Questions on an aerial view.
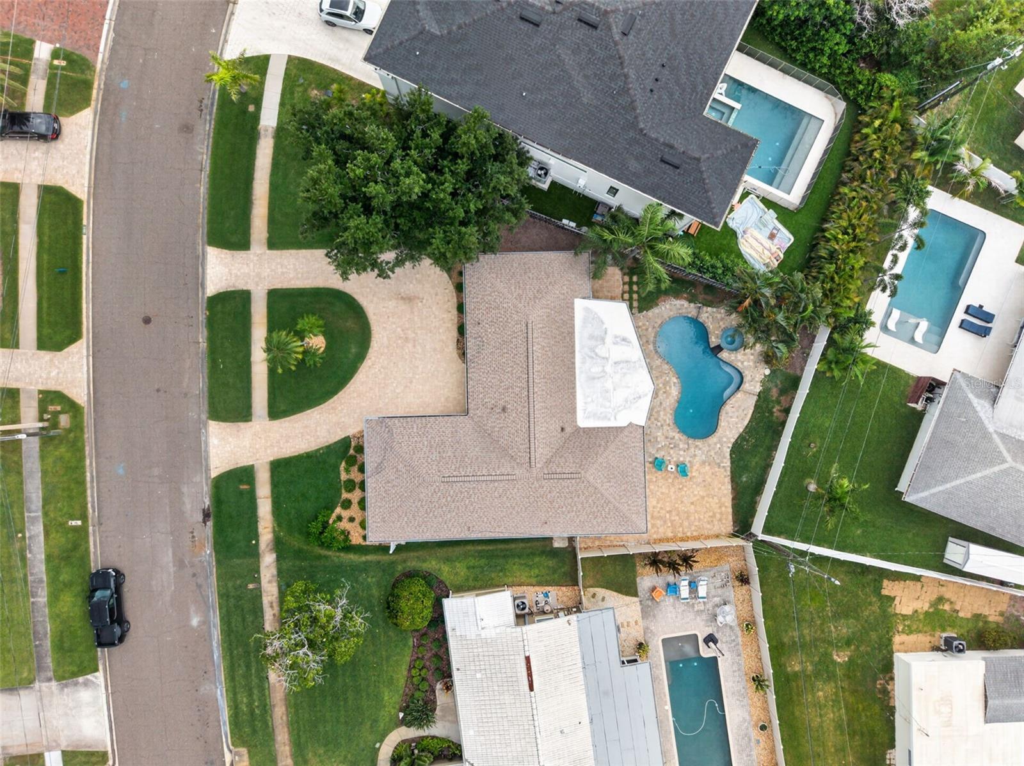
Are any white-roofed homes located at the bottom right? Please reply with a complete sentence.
Yes, a white-roofed home is visible at the bottom right.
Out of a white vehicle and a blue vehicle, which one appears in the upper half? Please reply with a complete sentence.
It is a white vehicle that can be seen in the upper half.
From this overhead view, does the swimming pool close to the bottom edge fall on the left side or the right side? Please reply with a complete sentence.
The swimming pool close to the bottom edge sits on the right side.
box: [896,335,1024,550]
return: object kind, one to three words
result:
house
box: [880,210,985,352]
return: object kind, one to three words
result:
swimming pool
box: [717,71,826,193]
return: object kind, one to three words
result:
swimming pool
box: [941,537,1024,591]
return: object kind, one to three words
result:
shed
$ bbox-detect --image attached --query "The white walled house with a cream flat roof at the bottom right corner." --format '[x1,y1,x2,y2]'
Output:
[892,642,1024,766]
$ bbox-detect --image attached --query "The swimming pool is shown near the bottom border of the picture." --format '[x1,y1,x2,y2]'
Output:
[659,630,736,766]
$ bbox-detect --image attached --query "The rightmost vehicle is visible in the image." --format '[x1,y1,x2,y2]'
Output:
[313,0,385,33]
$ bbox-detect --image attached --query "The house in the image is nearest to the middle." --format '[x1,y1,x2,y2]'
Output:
[363,249,656,553]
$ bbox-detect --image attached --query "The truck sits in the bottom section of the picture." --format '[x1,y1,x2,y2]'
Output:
[89,565,133,647]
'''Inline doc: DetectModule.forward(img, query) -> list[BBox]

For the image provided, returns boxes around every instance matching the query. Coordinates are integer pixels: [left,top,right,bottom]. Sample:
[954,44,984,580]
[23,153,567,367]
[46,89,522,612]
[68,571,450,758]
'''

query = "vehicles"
[313,0,385,33]
[0,108,64,144]
[89,565,133,647]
